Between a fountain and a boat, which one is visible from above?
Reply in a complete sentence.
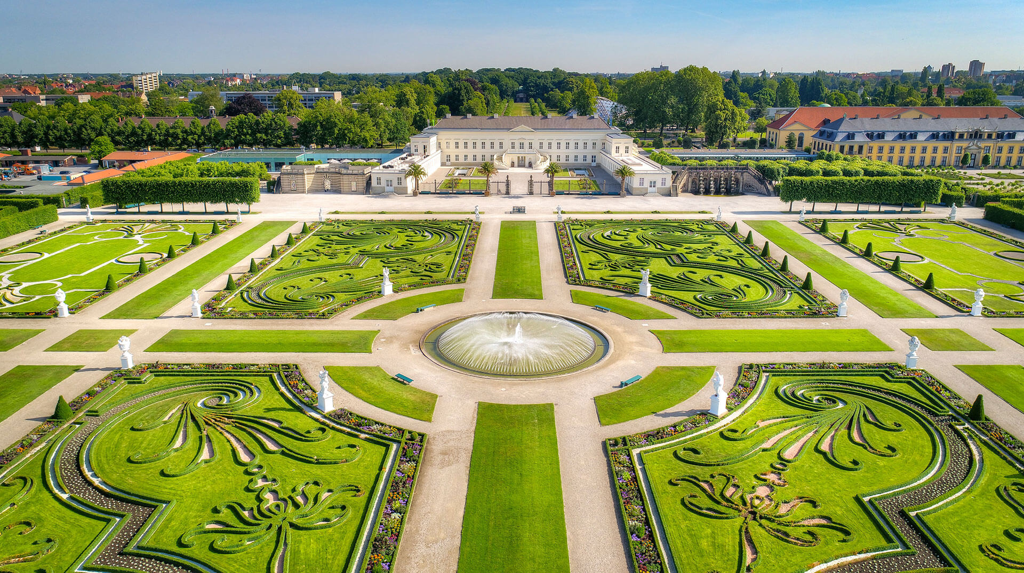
It is a fountain that can be seen here.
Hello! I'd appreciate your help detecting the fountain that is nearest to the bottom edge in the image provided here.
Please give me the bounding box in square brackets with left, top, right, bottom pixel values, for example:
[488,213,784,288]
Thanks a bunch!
[420,308,616,380]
